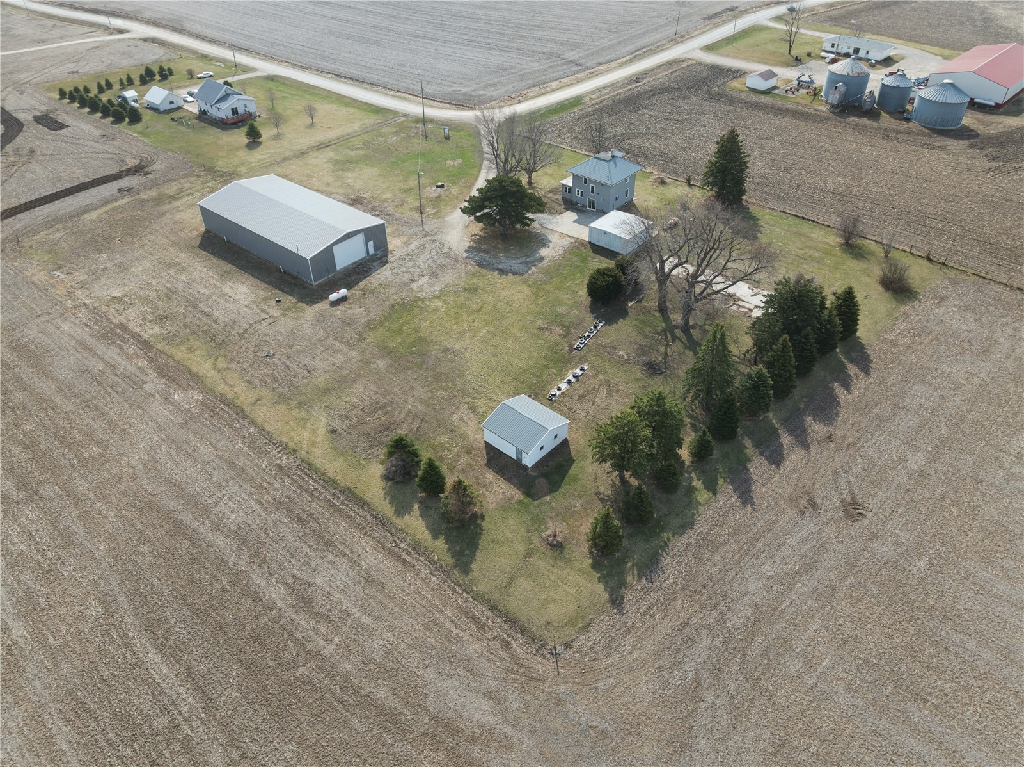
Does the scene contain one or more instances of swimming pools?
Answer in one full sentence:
No, no swimming pool is visible in the scene.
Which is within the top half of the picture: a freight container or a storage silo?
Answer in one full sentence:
There is a storage silo within the top half of the picture.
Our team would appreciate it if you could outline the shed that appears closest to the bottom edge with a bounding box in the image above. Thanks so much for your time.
[480,395,571,468]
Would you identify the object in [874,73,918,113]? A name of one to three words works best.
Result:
silo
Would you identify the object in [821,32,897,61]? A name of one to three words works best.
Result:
house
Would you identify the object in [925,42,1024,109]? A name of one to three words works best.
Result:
barn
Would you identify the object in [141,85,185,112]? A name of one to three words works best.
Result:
building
